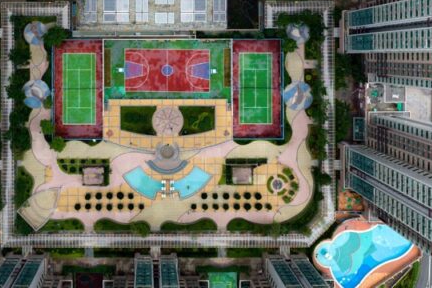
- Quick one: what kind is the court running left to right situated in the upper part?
basketball court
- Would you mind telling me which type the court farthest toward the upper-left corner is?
tennis court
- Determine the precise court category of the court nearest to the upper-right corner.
tennis court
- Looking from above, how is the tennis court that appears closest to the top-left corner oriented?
from top to bottom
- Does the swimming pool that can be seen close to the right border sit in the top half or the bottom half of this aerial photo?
bottom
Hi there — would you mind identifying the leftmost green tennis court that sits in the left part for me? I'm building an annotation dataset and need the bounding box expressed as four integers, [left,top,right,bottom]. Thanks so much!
[52,40,103,141]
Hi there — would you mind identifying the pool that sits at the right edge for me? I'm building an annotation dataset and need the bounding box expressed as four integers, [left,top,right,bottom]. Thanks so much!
[313,211,420,288]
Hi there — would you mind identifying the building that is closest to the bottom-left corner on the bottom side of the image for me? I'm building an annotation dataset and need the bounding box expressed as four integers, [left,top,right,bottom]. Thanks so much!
[0,253,74,288]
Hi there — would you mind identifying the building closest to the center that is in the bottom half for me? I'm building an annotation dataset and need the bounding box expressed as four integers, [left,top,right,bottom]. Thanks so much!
[230,165,253,186]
